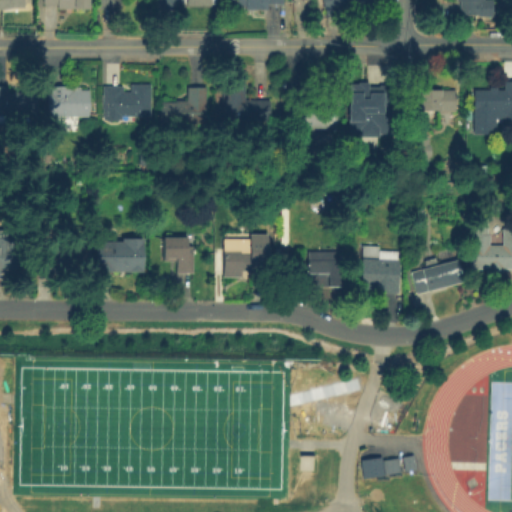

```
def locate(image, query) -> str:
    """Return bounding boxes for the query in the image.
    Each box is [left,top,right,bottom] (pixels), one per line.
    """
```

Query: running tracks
[424,344,512,512]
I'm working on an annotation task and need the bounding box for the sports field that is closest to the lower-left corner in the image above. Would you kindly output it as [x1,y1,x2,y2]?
[14,357,290,498]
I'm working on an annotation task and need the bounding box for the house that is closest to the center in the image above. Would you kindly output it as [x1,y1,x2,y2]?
[224,234,270,280]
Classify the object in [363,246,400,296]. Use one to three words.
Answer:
house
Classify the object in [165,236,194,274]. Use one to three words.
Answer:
house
